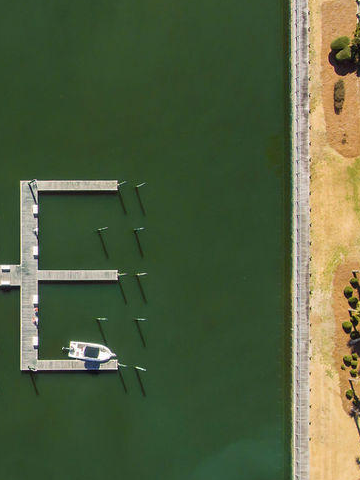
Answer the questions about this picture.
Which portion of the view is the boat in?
bottom left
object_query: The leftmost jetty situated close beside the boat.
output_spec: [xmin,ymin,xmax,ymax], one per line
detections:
[20,180,38,370]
